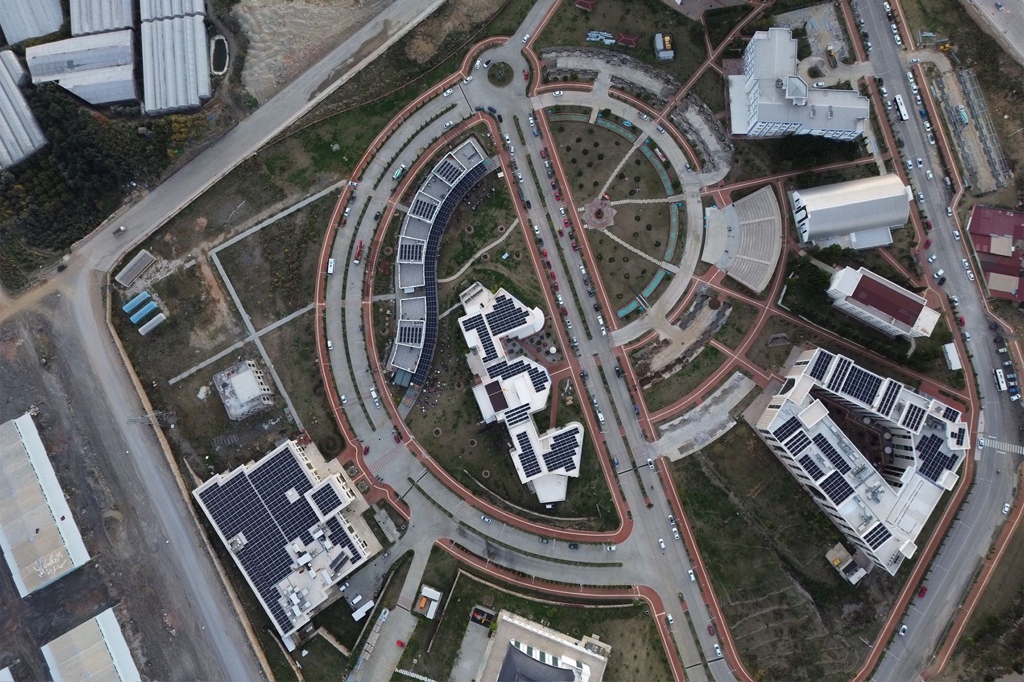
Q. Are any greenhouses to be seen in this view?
Yes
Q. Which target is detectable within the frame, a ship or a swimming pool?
swimming pool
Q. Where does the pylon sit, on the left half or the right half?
left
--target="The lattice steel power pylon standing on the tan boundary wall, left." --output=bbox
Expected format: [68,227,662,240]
[0,393,175,431]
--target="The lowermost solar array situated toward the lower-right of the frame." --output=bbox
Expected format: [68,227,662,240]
[863,523,891,549]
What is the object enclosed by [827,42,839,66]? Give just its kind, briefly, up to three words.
vehicle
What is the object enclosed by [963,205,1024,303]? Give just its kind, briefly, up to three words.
house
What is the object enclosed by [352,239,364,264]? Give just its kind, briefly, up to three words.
vehicle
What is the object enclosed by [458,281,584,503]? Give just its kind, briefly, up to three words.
building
